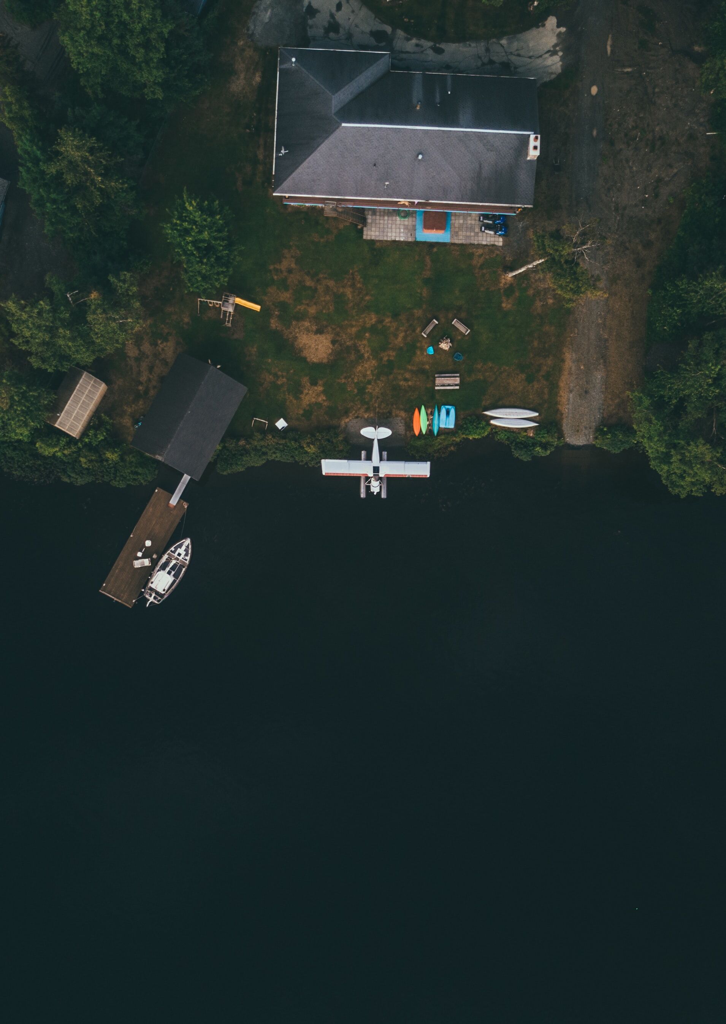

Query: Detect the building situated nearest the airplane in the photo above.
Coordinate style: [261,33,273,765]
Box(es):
[131,353,248,481]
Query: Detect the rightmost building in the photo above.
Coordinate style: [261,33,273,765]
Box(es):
[272,47,540,228]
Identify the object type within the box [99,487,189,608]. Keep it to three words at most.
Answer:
pier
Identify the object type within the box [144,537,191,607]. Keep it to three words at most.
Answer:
boat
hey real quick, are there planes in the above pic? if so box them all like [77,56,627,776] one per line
[321,427,431,499]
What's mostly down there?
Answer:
water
